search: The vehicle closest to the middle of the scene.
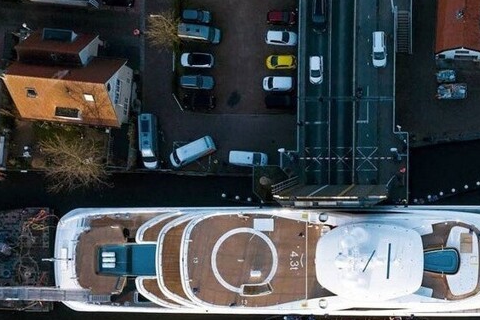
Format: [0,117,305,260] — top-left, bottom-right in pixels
[227,150,271,168]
